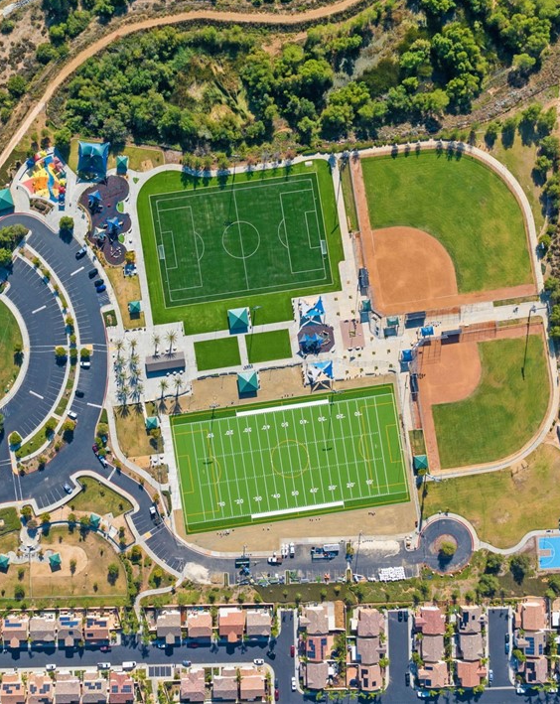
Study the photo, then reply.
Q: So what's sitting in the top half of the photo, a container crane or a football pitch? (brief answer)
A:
football pitch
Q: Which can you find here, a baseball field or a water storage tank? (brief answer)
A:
baseball field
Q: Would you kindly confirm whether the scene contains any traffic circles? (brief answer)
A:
Yes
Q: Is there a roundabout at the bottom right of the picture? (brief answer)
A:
Yes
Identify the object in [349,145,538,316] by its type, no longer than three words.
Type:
baseball field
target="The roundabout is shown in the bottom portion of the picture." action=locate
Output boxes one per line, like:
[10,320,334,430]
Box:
[420,520,472,571]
